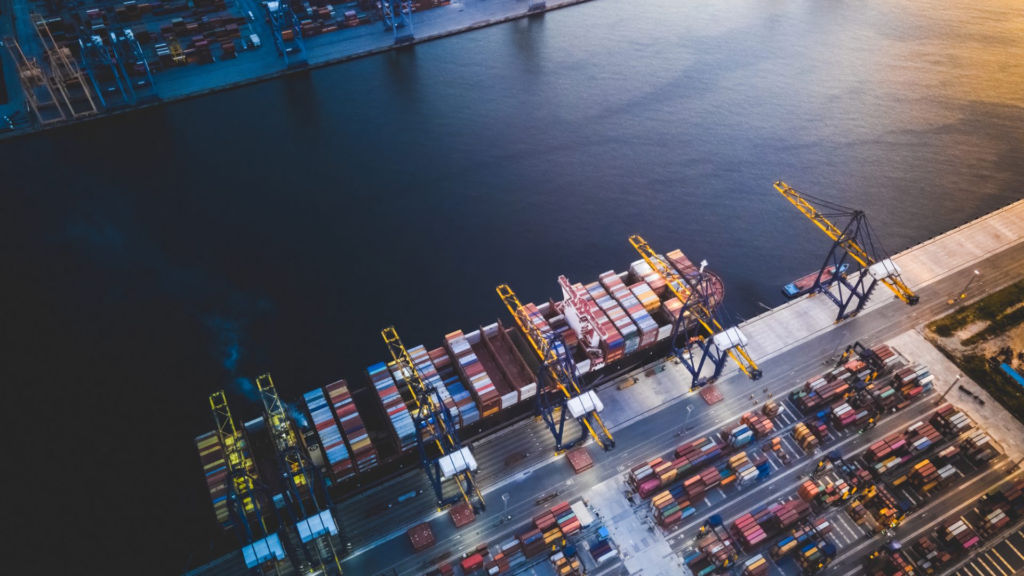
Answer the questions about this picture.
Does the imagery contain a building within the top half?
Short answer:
No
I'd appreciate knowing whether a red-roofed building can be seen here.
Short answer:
No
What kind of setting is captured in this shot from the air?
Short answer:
port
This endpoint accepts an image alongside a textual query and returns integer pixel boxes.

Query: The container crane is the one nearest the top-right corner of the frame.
[775,182,919,323]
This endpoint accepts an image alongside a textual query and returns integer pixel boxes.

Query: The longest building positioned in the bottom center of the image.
[566,494,594,528]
